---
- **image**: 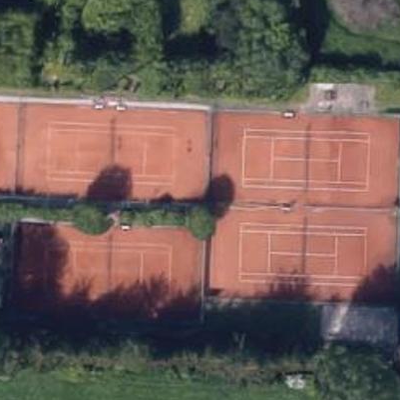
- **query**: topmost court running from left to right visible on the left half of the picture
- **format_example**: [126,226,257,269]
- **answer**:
[17,103,213,202]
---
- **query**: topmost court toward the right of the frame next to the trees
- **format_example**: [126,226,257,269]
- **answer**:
[211,110,400,210]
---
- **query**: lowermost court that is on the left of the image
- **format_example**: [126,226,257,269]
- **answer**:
[14,222,206,324]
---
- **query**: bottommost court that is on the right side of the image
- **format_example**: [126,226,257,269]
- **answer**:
[208,205,399,304]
